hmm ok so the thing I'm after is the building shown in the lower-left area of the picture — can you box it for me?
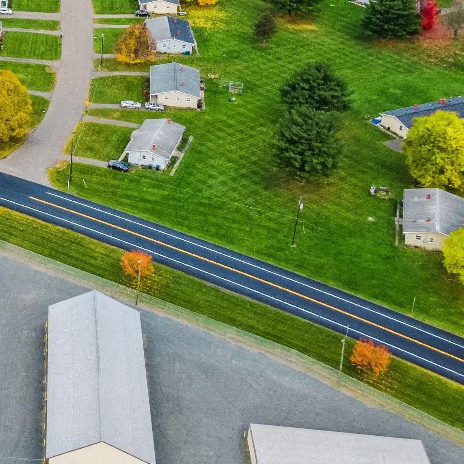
[47,290,156,464]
